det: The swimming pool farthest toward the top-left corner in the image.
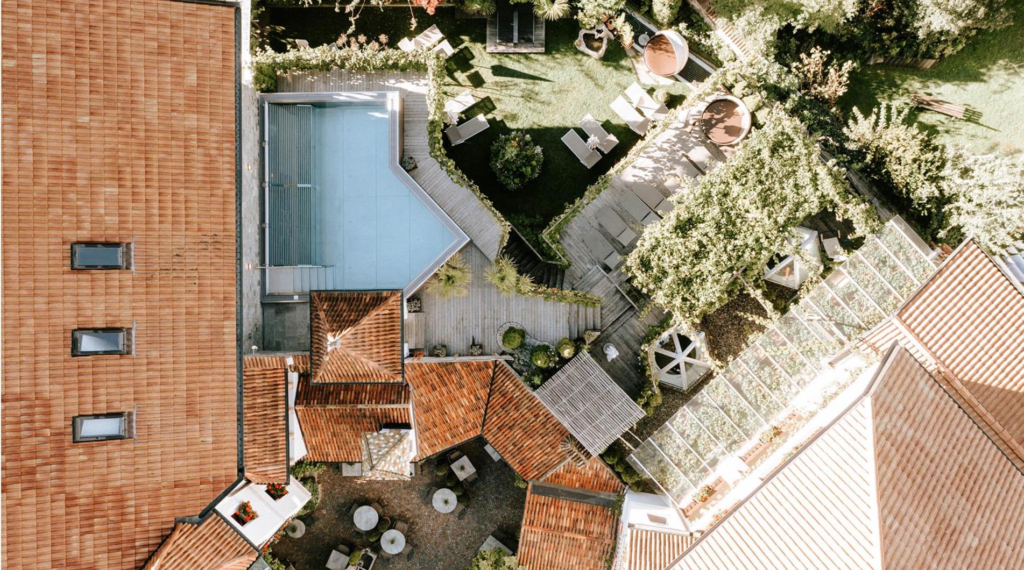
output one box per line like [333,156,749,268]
[257,92,472,302]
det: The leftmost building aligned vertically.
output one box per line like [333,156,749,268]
[0,0,245,570]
